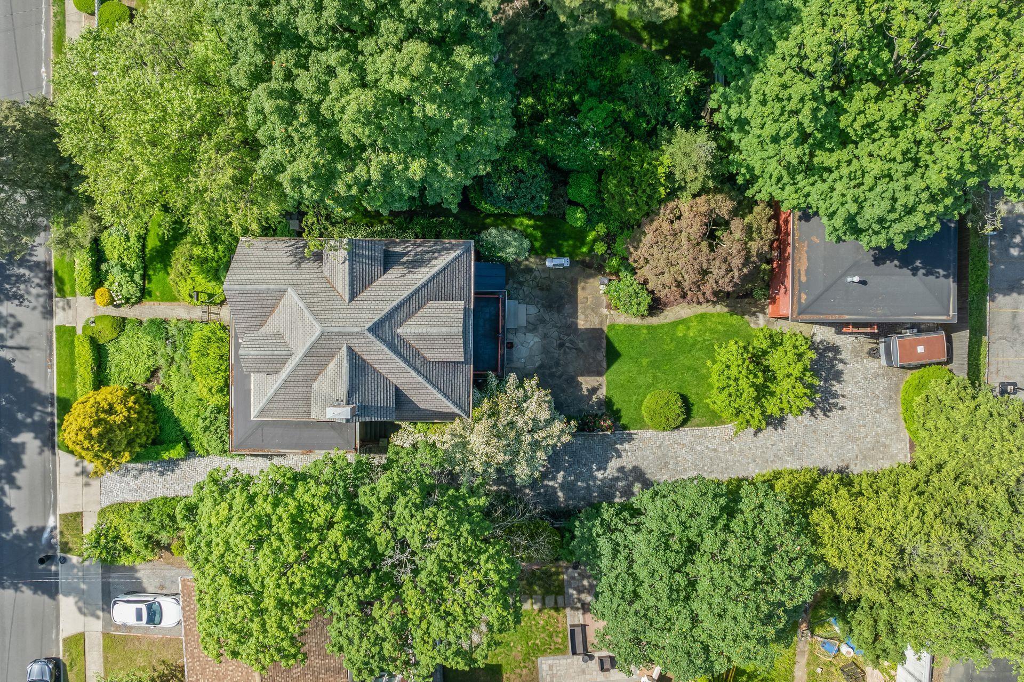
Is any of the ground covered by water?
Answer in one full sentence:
No, no water is visible.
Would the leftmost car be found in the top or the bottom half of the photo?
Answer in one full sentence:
The leftmost car is in the bottom half of the image.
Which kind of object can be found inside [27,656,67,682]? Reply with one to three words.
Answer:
car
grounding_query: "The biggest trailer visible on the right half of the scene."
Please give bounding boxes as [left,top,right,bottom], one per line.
[866,332,954,365]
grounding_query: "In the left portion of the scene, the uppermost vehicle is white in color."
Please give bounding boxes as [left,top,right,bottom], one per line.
[111,591,180,628]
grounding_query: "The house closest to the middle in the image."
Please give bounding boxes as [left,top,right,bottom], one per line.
[221,237,527,455]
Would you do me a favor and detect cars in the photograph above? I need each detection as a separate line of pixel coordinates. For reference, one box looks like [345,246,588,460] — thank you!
[111,591,180,628]
[27,656,67,682]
